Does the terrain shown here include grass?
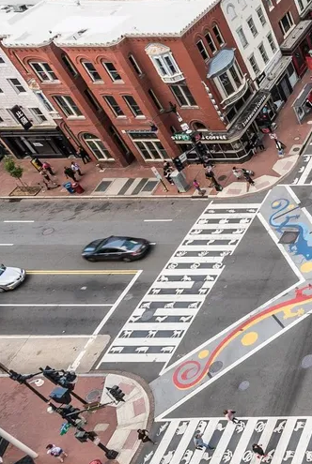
No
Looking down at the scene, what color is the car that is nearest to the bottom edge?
white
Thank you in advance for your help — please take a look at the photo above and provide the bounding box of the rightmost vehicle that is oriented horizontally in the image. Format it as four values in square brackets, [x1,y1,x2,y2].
[78,233,157,262]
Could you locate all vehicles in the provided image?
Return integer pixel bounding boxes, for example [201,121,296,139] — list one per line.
[0,262,32,293]
[78,233,157,262]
